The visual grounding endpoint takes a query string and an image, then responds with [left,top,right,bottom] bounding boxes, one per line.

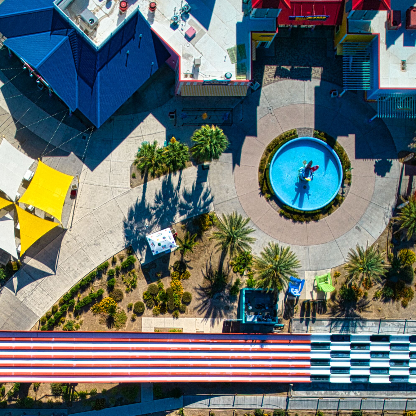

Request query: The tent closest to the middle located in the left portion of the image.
[144,227,177,257]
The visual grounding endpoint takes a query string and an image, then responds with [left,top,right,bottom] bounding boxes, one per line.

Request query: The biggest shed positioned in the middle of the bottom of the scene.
[226,288,278,325]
